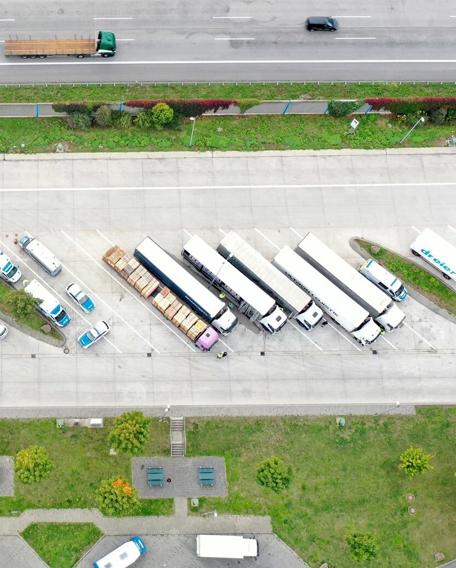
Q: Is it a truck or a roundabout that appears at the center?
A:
truck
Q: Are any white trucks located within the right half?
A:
Yes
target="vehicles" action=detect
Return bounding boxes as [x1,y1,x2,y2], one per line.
[272,246,381,347]
[94,535,146,568]
[194,535,260,561]
[293,232,405,333]
[19,236,63,280]
[5,33,116,61]
[304,16,339,34]
[358,257,406,303]
[78,319,111,350]
[23,279,69,328]
[133,236,240,337]
[216,230,325,331]
[0,322,11,340]
[408,230,456,284]
[65,282,97,315]
[0,251,22,284]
